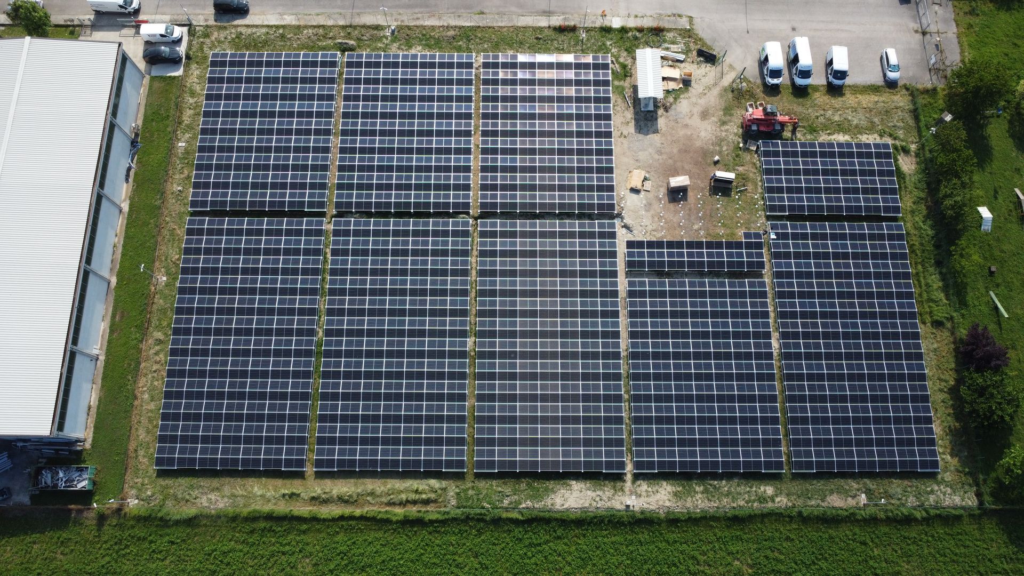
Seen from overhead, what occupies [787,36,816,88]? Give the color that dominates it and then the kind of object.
white van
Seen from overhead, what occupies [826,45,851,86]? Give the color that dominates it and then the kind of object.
white vehicle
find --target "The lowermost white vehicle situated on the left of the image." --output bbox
[139,22,182,43]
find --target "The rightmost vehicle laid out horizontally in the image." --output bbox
[742,106,807,135]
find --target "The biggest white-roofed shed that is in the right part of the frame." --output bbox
[633,48,663,110]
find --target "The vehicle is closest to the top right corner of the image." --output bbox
[879,50,902,82]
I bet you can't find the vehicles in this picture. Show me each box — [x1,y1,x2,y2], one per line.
[142,43,183,64]
[84,0,141,13]
[759,39,788,88]
[742,106,807,135]
[787,36,816,88]
[879,50,902,82]
[212,0,251,12]
[826,45,851,86]
[139,22,182,43]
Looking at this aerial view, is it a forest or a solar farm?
solar farm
